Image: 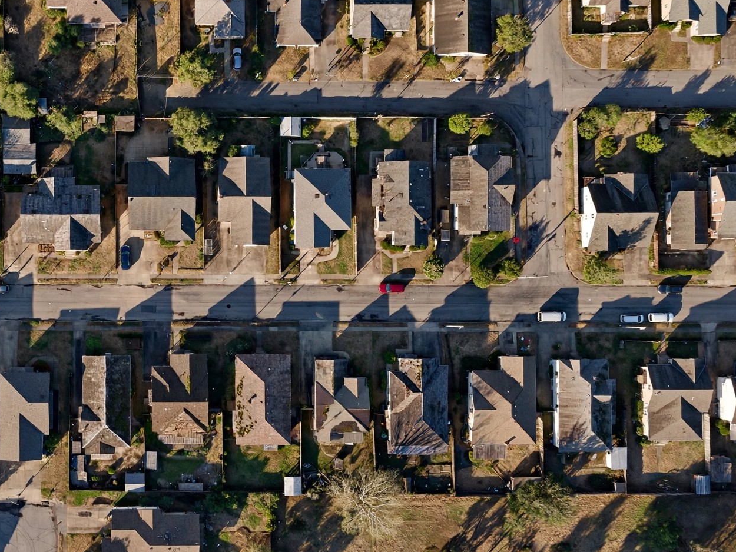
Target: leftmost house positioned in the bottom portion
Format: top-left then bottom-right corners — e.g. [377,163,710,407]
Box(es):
[0,371,58,464]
